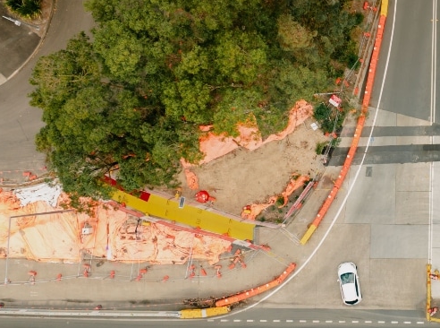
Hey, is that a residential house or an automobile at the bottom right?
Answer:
automobile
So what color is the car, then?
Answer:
white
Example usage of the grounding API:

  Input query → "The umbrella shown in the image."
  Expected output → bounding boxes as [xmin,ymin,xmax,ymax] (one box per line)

[197,189,210,203]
